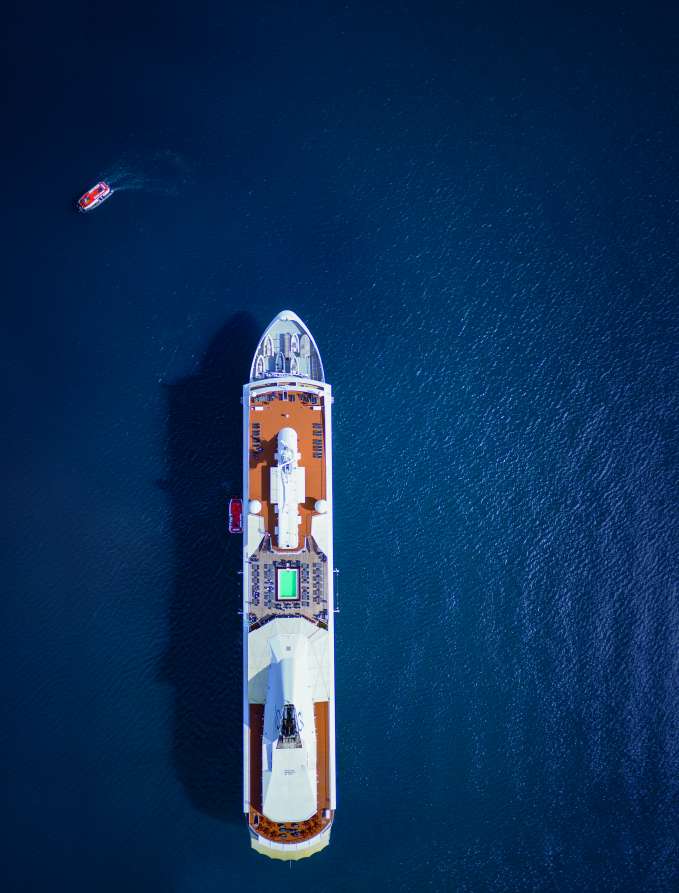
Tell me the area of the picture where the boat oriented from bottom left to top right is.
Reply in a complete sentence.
The boat oriented from bottom left to top right is in the top left part of the image.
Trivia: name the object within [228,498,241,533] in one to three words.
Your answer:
boat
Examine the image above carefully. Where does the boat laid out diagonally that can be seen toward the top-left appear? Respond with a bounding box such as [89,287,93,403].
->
[78,181,109,208]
